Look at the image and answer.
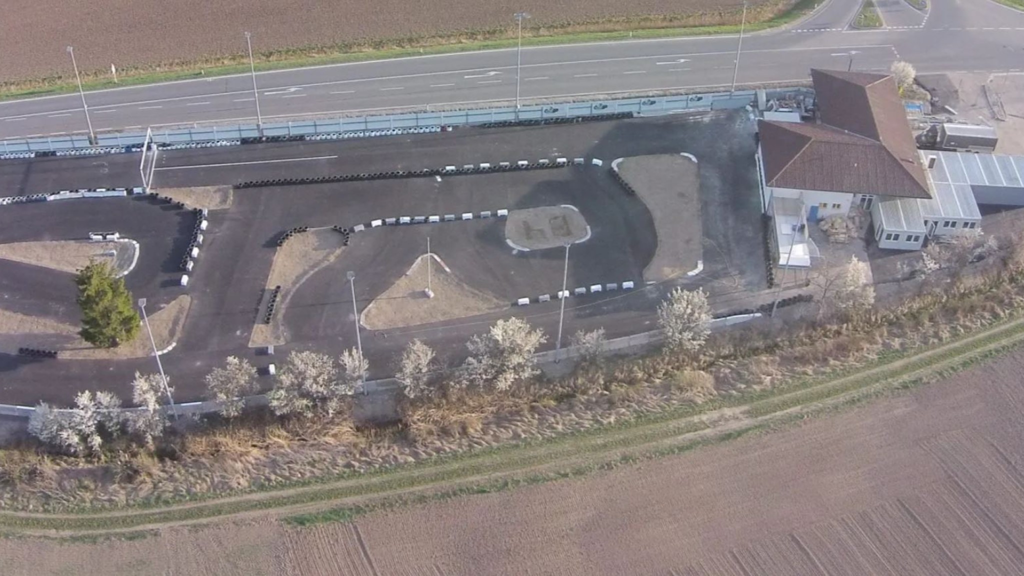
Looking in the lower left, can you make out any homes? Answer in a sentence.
No, the scene shows no home in the lower left.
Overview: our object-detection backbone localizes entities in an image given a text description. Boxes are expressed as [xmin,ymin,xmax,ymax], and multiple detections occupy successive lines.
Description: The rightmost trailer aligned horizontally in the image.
[939,124,998,153]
